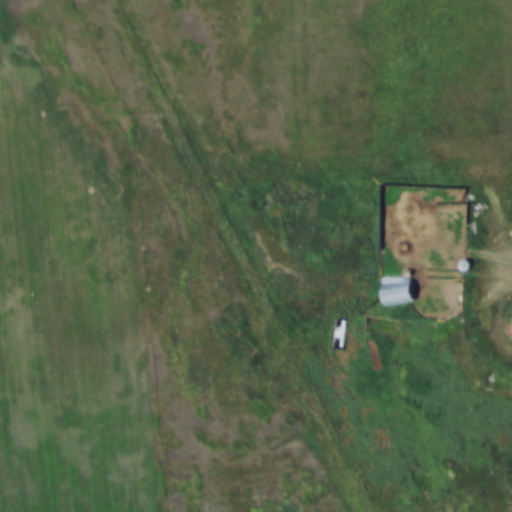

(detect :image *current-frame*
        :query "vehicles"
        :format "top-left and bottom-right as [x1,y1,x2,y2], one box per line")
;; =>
[334,320,348,350]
